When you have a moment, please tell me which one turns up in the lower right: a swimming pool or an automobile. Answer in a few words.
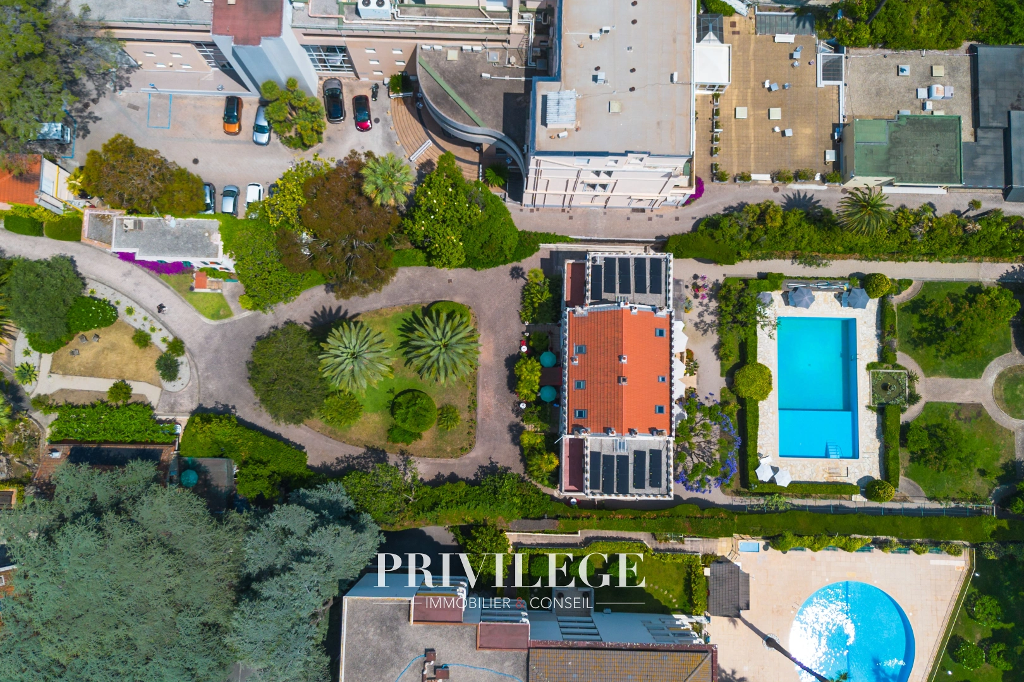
swimming pool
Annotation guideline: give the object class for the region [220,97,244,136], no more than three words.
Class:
car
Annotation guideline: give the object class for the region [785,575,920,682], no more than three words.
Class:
swimming pool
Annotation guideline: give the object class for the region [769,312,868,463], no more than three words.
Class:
swimming pool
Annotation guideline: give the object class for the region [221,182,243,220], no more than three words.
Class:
car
